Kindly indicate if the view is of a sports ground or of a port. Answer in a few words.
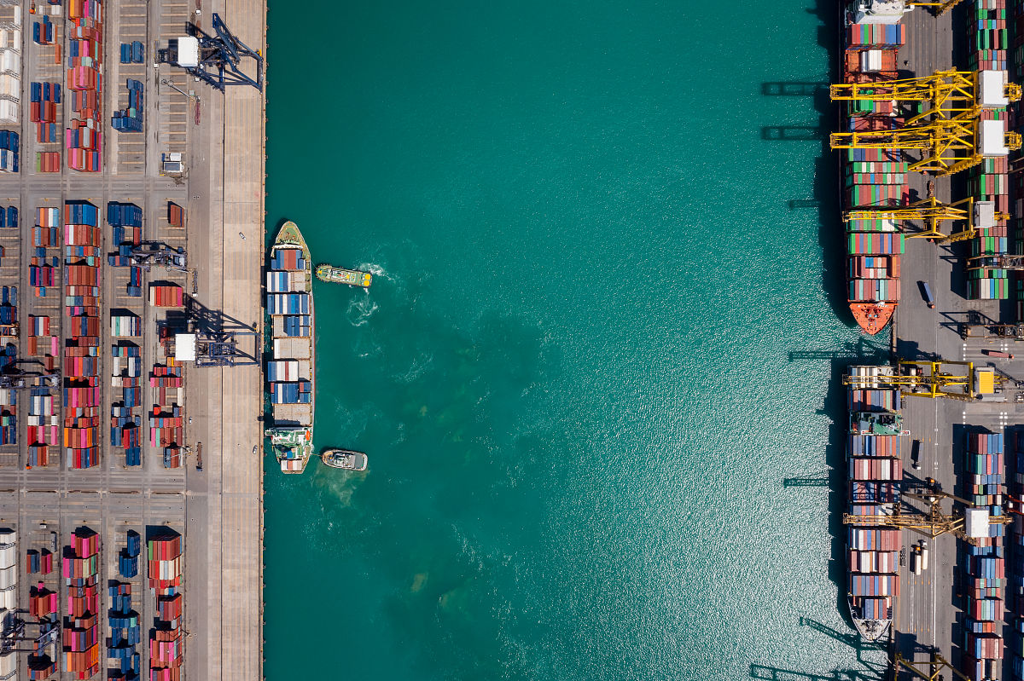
port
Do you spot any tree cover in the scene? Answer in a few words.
No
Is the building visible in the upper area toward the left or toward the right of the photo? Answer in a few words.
left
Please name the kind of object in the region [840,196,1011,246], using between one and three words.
container crane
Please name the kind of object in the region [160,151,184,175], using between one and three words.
building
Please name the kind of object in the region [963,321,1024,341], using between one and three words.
container crane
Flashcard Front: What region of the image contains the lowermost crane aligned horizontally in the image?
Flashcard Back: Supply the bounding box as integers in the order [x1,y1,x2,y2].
[898,652,970,681]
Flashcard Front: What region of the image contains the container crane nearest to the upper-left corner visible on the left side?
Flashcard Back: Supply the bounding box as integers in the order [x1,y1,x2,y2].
[170,11,262,96]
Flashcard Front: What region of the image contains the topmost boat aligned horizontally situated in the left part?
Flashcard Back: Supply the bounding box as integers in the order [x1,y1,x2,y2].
[316,262,373,286]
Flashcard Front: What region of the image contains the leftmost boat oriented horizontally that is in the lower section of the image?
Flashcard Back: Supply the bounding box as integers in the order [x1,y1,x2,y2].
[321,450,369,471]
